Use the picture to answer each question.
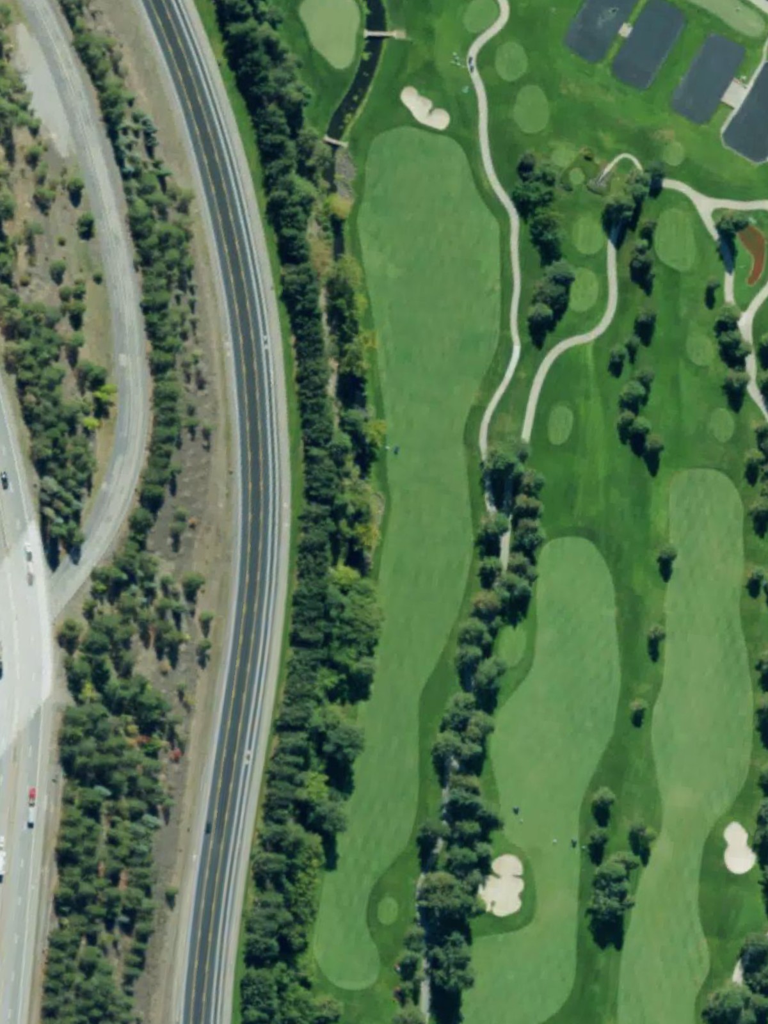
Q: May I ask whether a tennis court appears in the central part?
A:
No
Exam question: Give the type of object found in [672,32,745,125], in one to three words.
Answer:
tennis court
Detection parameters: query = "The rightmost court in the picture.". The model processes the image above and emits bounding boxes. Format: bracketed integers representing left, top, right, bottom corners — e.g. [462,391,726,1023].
[721,58,768,164]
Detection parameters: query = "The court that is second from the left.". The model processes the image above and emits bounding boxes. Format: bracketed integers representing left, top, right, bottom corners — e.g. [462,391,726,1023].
[613,0,684,89]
